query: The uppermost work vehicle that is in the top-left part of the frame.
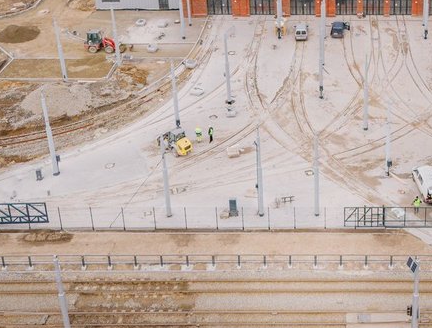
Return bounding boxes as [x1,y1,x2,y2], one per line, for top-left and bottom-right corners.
[81,32,120,54]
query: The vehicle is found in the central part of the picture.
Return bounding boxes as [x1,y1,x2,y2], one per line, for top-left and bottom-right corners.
[154,126,193,156]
